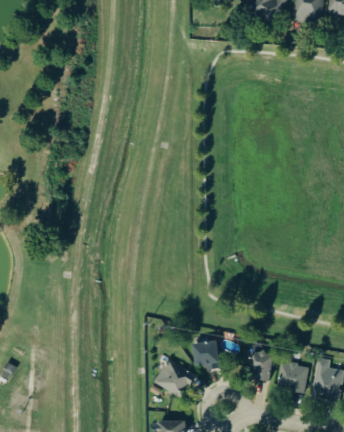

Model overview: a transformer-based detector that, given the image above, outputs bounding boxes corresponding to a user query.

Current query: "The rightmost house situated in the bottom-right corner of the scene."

[315,359,344,394]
